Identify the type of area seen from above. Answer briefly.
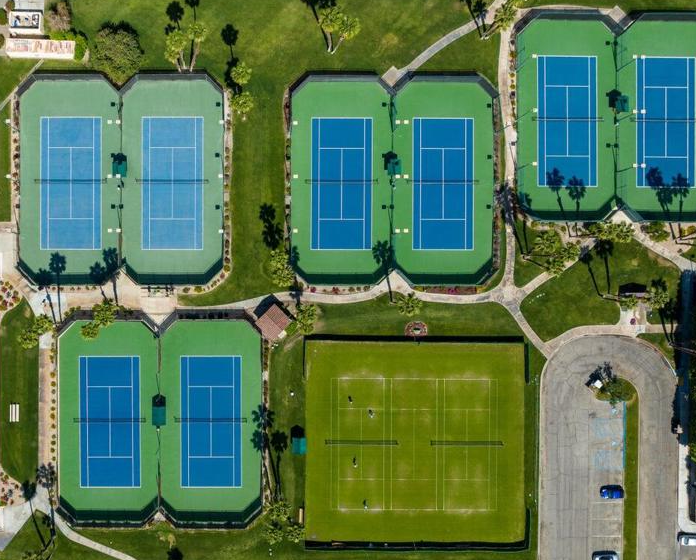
sports ground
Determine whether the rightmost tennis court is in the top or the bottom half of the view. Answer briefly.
top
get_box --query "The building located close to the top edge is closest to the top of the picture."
[9,10,46,39]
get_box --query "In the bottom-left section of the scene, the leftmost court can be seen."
[58,321,159,523]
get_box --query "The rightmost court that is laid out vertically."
[616,20,696,221]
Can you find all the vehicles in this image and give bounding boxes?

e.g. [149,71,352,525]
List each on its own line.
[601,487,625,500]
[593,553,620,560]
[681,535,696,547]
